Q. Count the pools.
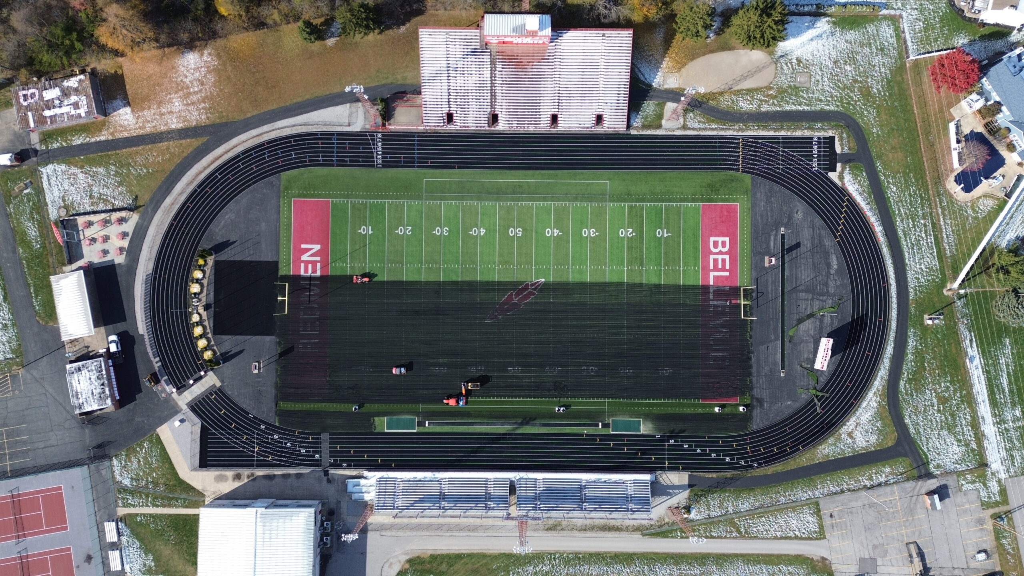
1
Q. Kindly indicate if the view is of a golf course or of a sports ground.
sports ground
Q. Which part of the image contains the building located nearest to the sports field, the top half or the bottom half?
bottom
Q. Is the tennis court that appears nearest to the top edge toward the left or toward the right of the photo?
left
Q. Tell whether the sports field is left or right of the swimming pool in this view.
to its left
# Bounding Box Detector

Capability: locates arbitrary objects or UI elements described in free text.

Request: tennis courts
[0,546,76,576]
[0,486,69,544]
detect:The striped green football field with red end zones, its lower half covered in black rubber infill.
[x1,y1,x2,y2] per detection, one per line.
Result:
[276,169,752,434]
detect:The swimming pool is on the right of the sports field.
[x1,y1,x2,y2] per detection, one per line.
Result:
[954,130,1006,193]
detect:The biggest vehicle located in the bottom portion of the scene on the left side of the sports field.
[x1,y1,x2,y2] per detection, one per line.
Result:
[109,337,123,362]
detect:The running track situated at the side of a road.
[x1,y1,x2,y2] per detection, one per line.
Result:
[151,132,889,472]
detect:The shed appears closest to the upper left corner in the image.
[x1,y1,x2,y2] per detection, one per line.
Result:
[10,73,105,133]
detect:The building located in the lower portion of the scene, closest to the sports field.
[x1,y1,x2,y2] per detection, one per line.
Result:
[197,495,323,576]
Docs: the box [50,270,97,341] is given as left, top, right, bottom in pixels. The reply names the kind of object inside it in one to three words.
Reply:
building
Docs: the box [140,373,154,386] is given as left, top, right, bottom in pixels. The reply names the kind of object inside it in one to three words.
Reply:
vehicle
